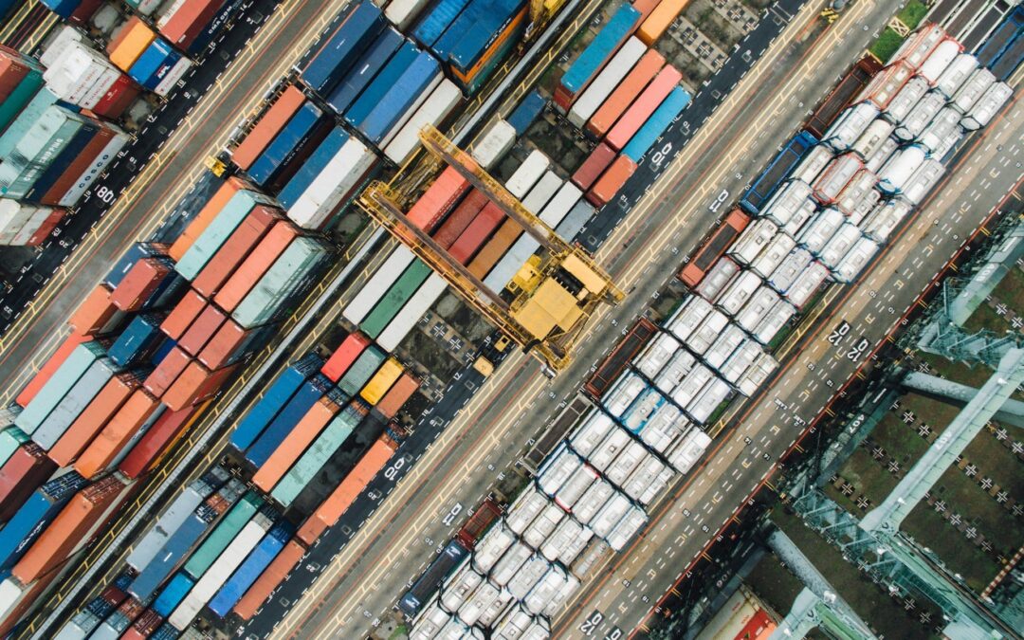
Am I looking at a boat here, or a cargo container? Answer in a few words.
cargo container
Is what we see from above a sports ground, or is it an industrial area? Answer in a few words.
industrial area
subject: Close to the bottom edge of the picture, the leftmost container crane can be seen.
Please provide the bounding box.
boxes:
[656,486,891,640]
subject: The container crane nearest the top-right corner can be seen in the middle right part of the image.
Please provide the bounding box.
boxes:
[899,197,1024,396]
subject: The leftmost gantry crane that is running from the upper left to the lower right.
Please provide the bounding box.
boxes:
[348,111,630,376]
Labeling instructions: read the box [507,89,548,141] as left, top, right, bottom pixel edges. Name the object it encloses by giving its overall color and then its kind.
blue shipping container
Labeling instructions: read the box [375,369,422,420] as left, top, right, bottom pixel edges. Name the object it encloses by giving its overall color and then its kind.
red shipping container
